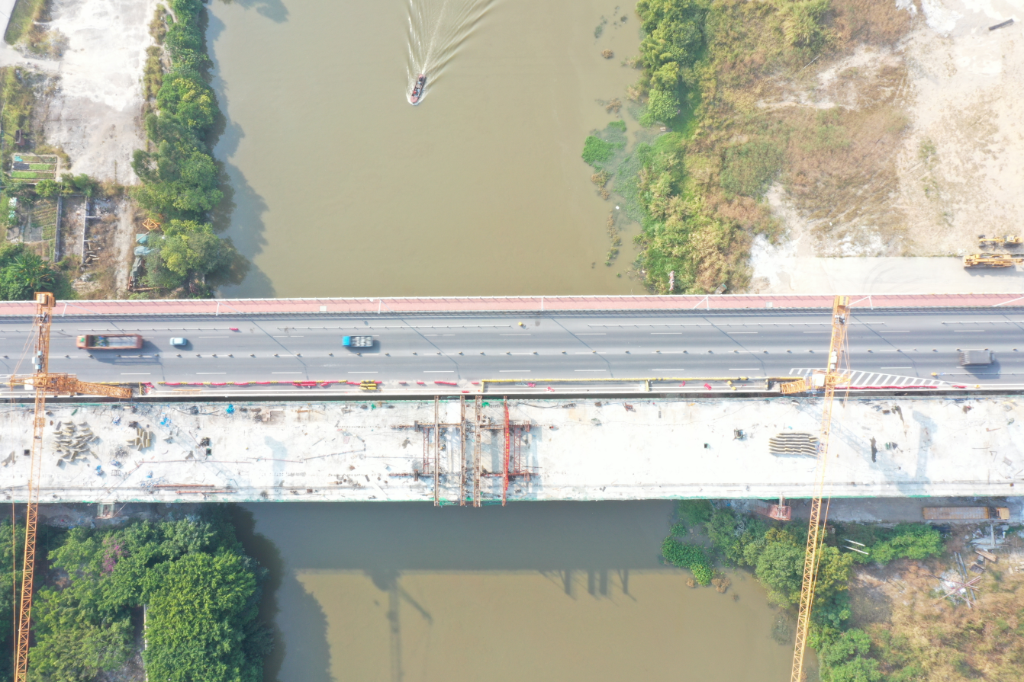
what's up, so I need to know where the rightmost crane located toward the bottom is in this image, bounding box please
[749,294,854,682]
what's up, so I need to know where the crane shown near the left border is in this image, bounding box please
[5,291,172,682]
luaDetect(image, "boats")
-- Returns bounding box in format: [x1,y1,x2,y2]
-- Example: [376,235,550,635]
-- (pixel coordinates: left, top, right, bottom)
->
[412,73,424,102]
